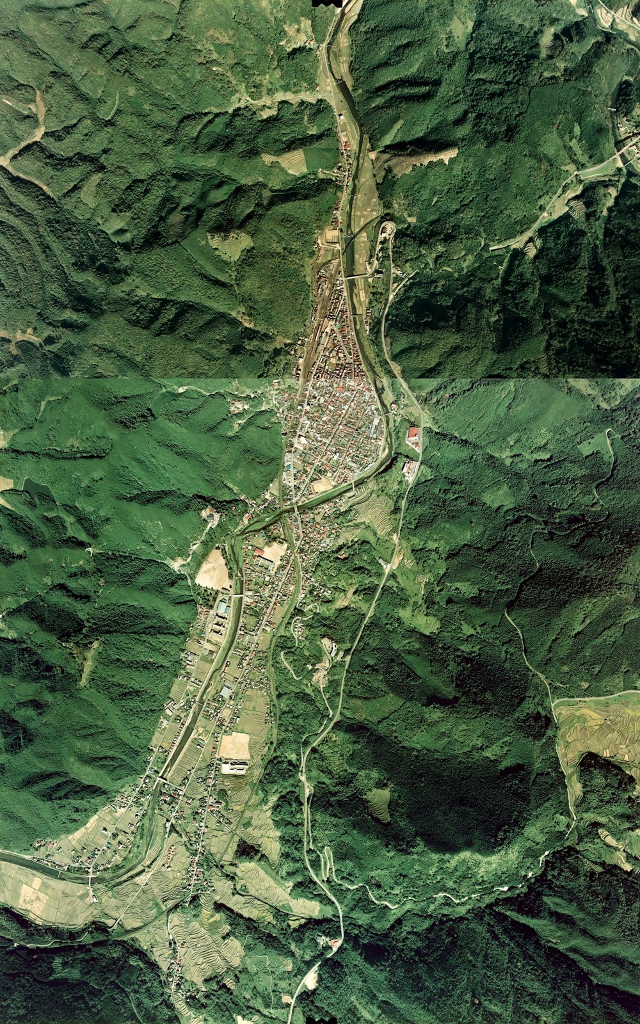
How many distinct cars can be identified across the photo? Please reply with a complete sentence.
I count no cars.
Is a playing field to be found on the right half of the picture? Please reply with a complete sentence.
No, no playing field appears on the right half of the picture.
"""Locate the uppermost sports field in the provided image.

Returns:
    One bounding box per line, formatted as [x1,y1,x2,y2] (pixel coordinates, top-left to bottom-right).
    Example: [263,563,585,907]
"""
[196,549,232,588]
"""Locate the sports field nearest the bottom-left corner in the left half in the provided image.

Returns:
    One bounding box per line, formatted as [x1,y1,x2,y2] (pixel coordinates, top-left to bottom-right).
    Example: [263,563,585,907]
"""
[219,732,251,758]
